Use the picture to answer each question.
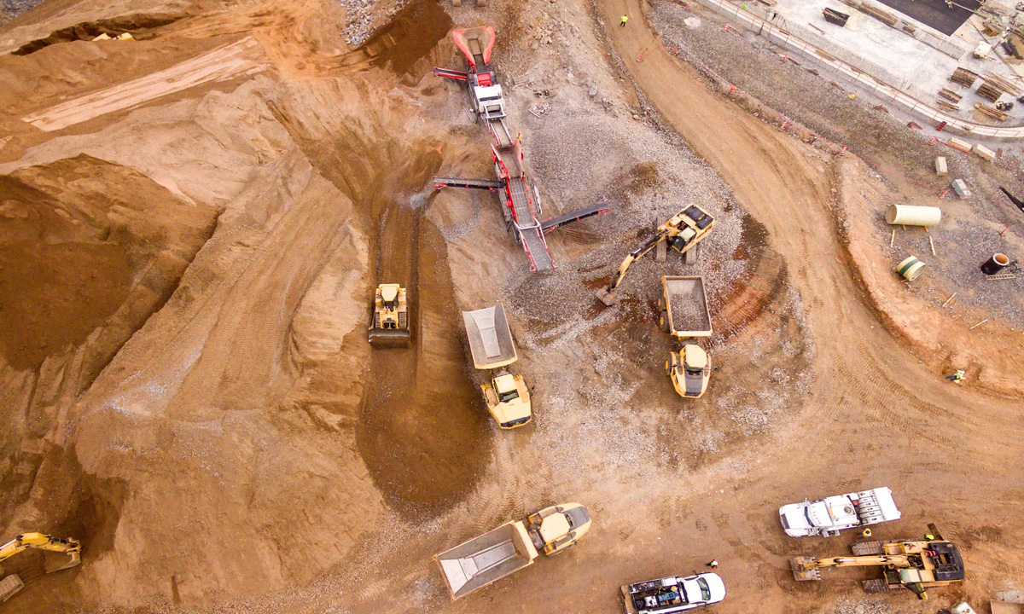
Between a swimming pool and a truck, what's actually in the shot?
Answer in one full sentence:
I can see a truck in this picture.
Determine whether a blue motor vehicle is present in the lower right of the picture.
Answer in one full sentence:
No, I can find no blue motor vehicle in the lower right of the picture.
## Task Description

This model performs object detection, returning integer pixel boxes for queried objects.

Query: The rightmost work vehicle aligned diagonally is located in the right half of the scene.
[601,200,716,303]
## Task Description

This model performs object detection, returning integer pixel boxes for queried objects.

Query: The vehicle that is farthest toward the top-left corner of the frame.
[109,29,156,46]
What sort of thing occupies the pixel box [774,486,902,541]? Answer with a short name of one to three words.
truck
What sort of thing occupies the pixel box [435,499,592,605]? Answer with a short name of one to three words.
truck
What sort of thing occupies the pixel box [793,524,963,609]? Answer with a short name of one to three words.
work vehicle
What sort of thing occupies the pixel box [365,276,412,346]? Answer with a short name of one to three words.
work vehicle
